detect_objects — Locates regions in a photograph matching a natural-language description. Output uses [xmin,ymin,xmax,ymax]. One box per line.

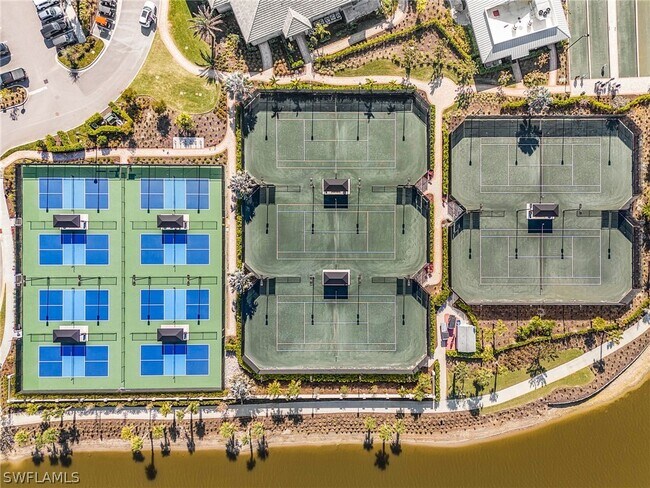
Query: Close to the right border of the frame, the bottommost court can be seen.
[451,211,632,303]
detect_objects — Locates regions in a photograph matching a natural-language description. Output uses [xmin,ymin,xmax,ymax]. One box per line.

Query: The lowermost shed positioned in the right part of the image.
[455,325,476,352]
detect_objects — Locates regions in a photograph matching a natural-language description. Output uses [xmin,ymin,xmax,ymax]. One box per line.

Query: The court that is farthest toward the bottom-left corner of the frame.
[39,343,109,379]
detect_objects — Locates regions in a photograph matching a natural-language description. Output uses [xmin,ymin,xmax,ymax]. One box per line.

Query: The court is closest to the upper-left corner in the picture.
[39,175,109,211]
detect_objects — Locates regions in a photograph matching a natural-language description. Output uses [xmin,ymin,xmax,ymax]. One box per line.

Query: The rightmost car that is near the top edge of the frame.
[139,2,156,28]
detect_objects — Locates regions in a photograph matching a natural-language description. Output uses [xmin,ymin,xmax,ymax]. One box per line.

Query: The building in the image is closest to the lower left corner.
[53,327,88,343]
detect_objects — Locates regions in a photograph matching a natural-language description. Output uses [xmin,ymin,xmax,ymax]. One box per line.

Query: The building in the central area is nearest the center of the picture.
[322,270,350,286]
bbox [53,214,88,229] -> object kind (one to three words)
building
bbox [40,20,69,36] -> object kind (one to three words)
car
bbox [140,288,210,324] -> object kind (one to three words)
sports court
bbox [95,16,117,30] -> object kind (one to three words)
car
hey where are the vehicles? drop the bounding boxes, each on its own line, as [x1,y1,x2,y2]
[95,16,117,30]
[34,0,61,10]
[51,33,78,48]
[38,6,65,22]
[439,322,448,340]
[139,2,156,28]
[0,69,29,87]
[0,44,12,56]
[40,20,69,36]
[446,314,456,328]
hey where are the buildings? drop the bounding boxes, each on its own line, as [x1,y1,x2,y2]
[157,214,189,229]
[322,179,350,195]
[455,325,476,352]
[157,327,189,343]
[53,327,88,343]
[322,270,350,286]
[527,203,559,219]
[53,214,88,229]
[461,0,571,65]
[211,0,380,45]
